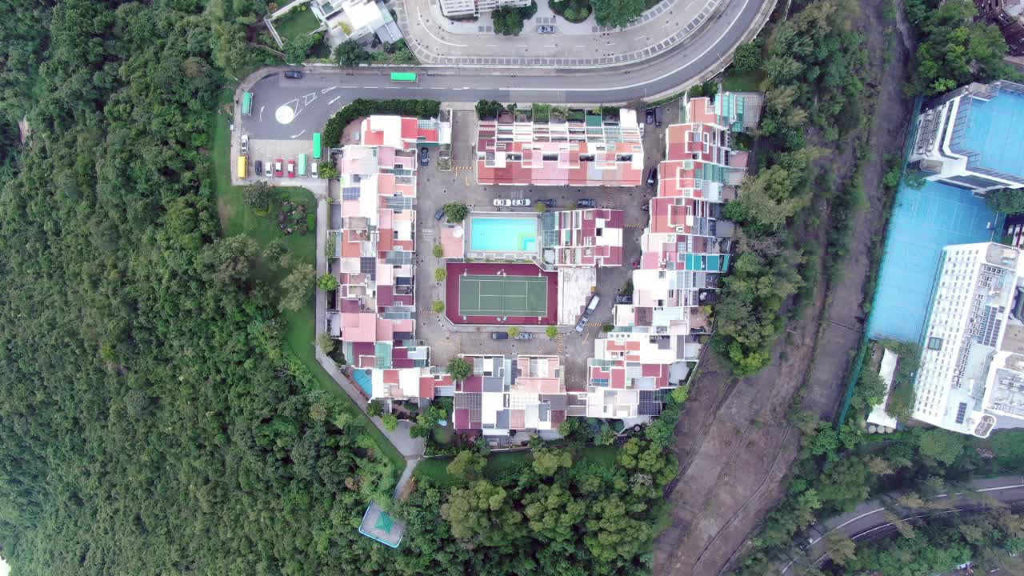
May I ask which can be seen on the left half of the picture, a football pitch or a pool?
pool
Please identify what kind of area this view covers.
residential area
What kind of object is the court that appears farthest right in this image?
basketball court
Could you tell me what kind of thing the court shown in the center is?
tennis court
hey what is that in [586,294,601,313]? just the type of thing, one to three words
vehicle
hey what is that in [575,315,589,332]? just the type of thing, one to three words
car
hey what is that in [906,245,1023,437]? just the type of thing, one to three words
building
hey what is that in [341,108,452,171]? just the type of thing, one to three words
house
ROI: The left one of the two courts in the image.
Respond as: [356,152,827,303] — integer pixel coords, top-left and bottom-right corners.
[447,263,557,325]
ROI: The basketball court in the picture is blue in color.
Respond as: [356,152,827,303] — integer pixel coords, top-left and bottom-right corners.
[875,181,1014,344]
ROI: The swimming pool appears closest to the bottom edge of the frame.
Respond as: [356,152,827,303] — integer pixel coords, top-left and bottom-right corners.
[343,367,372,398]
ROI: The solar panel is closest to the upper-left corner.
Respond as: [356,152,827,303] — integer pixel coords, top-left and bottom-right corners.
[343,187,360,200]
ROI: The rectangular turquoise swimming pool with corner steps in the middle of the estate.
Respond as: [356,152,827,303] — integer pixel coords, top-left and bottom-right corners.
[464,211,558,271]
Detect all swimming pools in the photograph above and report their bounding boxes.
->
[464,211,558,271]
[343,367,372,398]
